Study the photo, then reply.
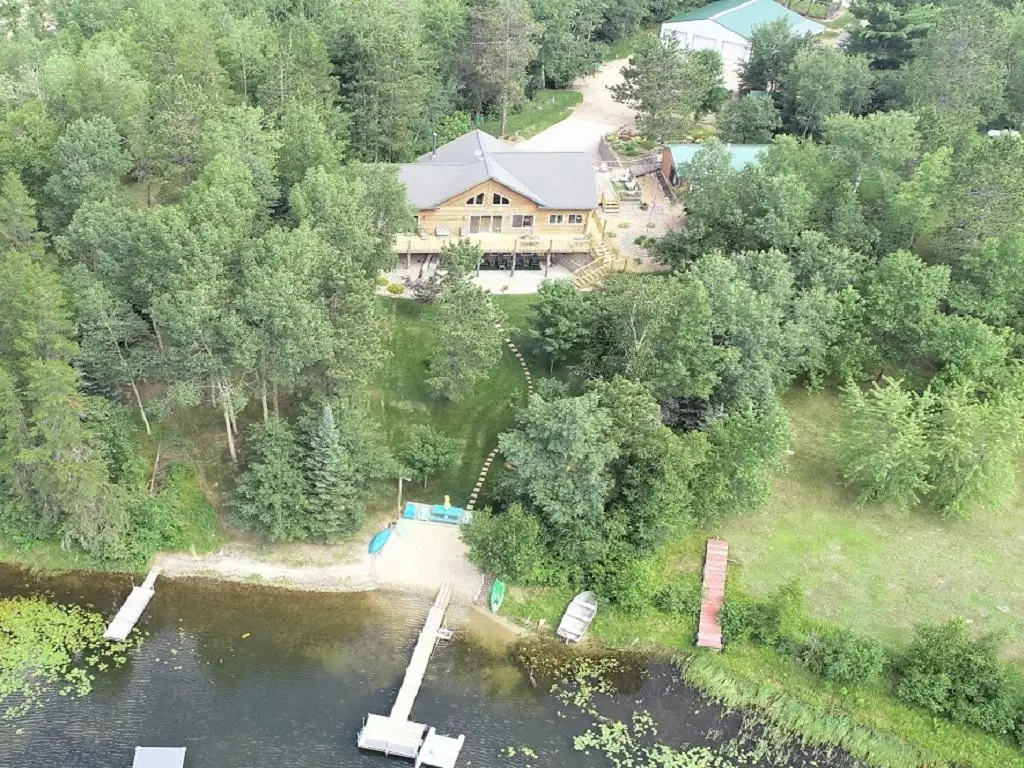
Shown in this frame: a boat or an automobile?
boat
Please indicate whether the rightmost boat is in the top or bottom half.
bottom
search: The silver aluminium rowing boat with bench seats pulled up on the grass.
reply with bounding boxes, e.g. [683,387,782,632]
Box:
[559,585,596,640]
